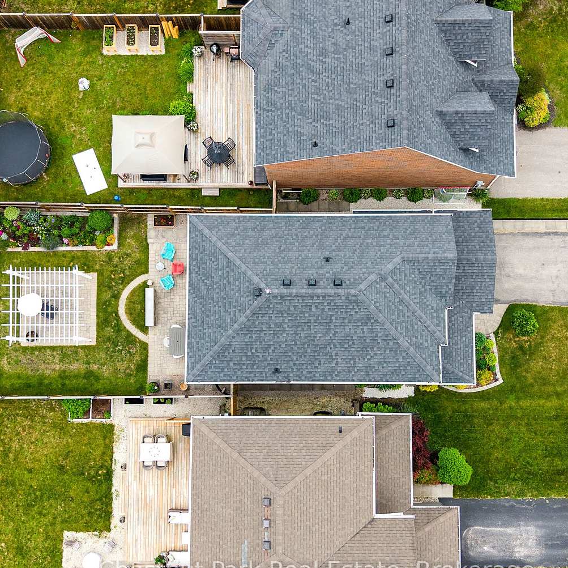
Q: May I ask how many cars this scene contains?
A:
0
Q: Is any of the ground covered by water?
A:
No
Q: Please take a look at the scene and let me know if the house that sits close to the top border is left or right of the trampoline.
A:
right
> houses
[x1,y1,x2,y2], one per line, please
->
[187,411,463,568]
[239,0,518,189]
[186,206,503,385]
